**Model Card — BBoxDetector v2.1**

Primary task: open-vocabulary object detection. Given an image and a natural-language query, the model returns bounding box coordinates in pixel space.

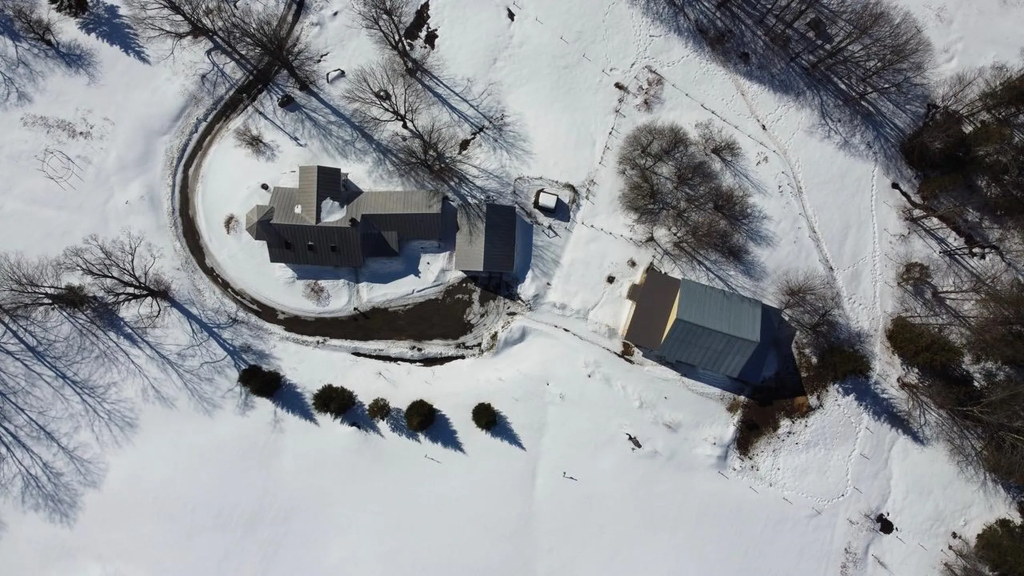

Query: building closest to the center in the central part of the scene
[454,202,516,272]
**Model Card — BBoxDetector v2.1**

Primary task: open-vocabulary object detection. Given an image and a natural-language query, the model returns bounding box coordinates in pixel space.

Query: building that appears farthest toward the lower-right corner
[652,279,761,378]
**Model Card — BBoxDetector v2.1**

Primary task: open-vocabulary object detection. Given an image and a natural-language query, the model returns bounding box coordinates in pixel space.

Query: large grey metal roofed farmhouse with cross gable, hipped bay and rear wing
[246,164,443,267]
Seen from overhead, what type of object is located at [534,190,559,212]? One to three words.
shed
